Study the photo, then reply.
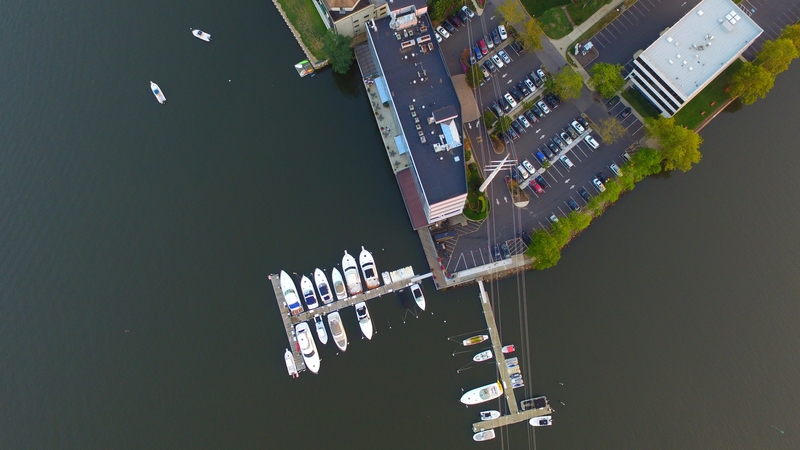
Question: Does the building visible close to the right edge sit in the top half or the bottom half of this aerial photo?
top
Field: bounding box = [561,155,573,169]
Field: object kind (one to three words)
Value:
vehicle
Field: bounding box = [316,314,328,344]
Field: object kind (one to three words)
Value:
boat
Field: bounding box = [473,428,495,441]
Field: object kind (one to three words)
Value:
boat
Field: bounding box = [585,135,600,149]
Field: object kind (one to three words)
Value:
car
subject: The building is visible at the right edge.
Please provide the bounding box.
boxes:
[620,0,763,116]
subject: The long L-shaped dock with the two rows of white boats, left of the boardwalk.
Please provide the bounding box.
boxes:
[269,274,425,371]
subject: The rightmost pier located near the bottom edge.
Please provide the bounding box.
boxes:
[473,291,553,433]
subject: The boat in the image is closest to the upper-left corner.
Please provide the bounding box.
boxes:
[150,81,167,104]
